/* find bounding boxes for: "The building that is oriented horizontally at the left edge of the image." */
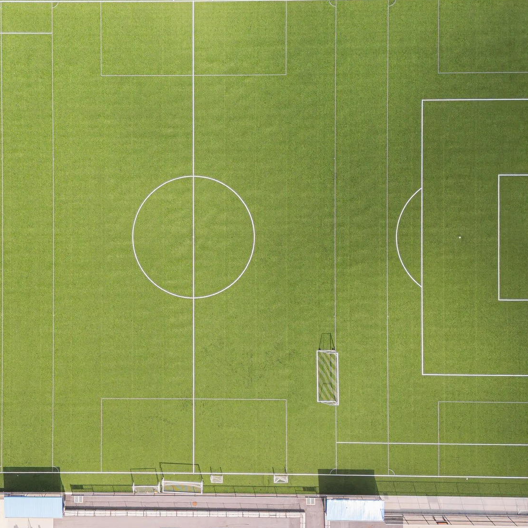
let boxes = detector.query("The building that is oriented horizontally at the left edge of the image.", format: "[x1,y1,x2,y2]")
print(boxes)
[5,491,65,520]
